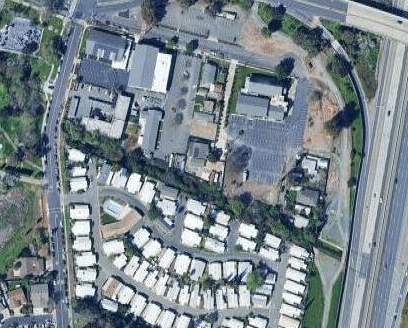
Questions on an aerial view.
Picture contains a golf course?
No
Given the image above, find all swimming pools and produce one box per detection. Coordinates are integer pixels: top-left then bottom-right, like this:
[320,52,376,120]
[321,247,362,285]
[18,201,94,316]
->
[103,199,131,220]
